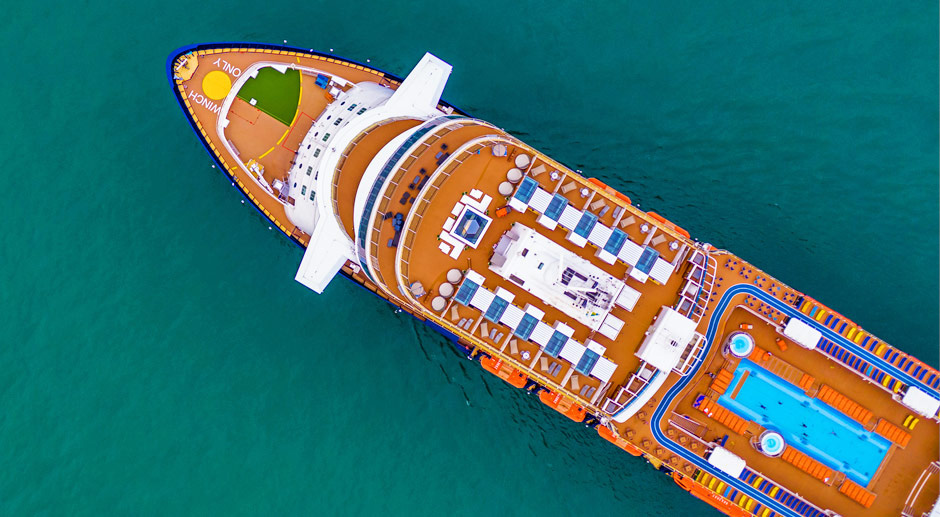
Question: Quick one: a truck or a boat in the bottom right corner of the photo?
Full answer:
What appears in the bottom right corner of the photo is a boat.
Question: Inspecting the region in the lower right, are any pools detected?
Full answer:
Yes, a pool is visible in the lower right.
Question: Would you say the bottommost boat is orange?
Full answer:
Yes, orange is the color of the bottommost boat.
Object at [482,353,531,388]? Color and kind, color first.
orange boat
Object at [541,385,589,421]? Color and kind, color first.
orange boat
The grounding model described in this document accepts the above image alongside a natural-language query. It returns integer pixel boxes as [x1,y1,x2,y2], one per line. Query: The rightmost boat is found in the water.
[890,343,940,370]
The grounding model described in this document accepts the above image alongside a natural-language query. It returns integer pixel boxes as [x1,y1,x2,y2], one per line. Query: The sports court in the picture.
[239,68,300,127]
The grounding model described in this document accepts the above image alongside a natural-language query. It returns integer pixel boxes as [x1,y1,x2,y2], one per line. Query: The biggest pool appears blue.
[691,344,912,509]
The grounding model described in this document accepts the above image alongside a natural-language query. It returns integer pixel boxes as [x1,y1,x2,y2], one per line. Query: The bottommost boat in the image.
[675,470,756,517]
